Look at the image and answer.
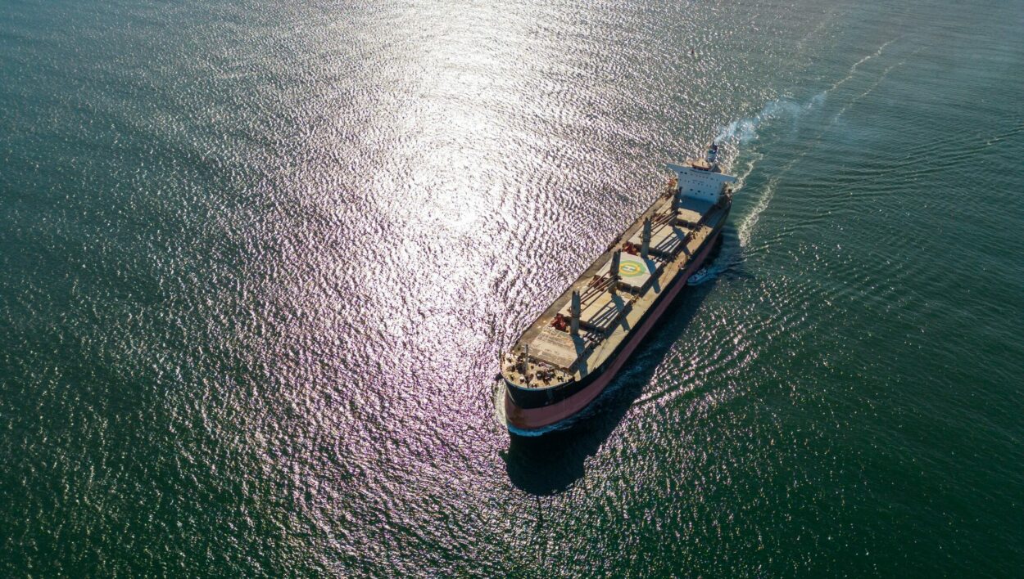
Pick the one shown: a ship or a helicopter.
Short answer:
ship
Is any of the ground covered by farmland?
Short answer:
No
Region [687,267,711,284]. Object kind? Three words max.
boat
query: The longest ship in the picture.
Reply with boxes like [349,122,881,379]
[493,141,739,425]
